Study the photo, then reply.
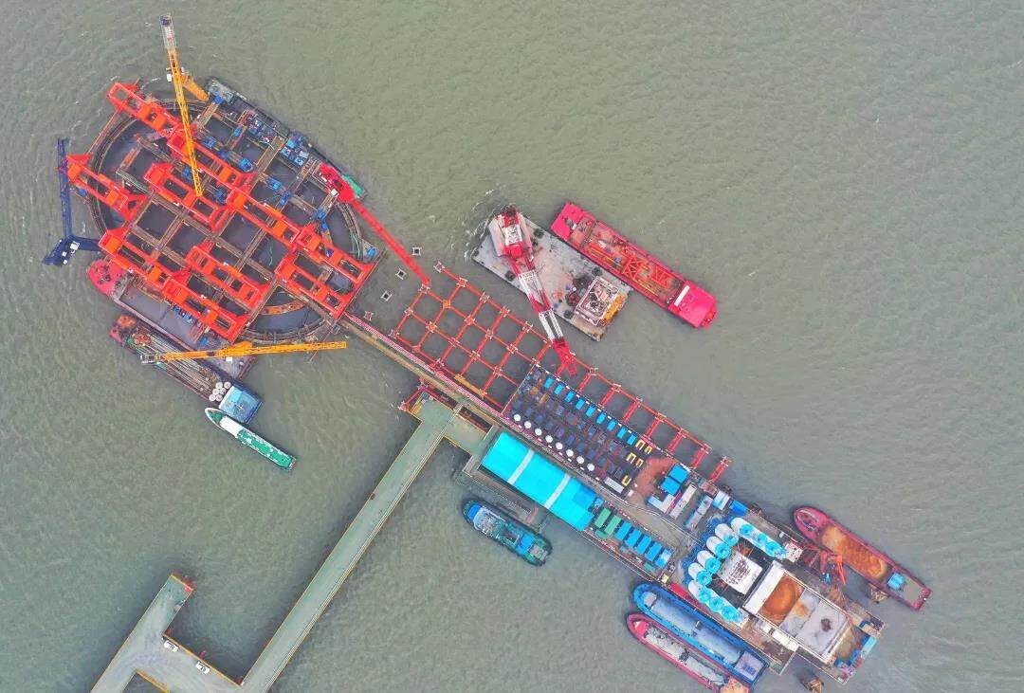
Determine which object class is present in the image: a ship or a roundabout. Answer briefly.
ship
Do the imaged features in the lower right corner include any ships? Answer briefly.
Yes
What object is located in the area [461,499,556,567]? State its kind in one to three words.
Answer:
boat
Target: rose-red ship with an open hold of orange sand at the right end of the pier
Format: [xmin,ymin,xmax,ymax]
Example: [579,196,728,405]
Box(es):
[792,508,936,613]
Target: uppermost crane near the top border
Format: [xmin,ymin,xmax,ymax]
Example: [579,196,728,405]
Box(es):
[159,17,216,195]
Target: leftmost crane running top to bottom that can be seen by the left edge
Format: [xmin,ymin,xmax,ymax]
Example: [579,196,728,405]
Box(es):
[41,138,103,268]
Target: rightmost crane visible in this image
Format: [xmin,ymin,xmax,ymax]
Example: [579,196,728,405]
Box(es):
[803,543,846,588]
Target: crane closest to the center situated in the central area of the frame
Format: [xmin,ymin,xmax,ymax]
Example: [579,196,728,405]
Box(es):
[497,203,583,387]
